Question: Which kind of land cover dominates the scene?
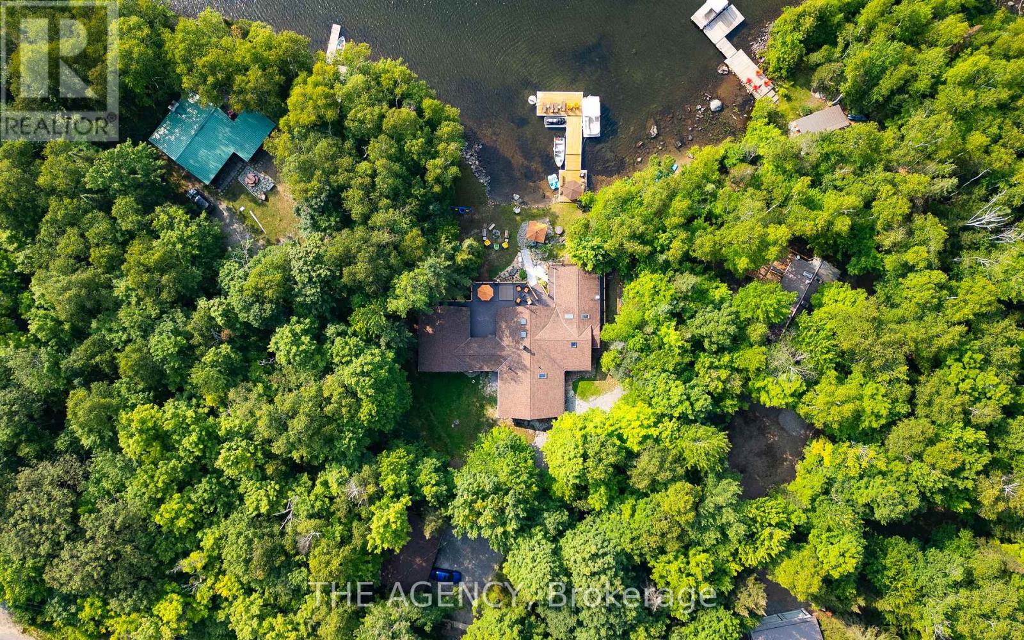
trees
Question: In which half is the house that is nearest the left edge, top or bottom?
top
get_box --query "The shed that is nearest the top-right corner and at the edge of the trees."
[796,101,847,138]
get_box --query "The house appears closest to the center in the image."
[417,265,601,421]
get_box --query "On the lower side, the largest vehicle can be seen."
[430,568,460,585]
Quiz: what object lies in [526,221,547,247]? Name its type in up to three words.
umbrella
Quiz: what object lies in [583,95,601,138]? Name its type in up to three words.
boat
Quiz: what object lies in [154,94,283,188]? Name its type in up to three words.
house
